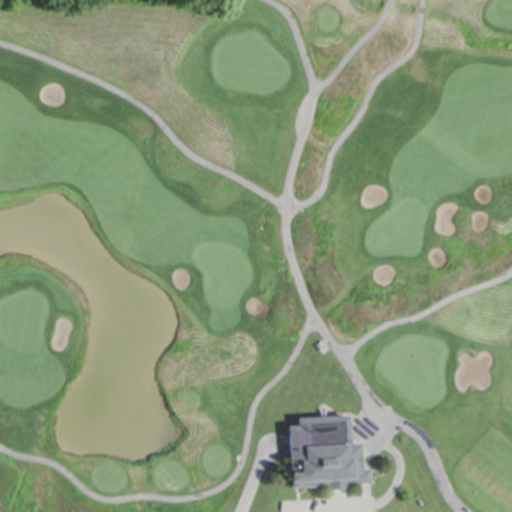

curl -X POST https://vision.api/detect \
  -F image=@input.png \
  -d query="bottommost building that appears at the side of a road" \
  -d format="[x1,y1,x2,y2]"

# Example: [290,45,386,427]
[290,417,371,492]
